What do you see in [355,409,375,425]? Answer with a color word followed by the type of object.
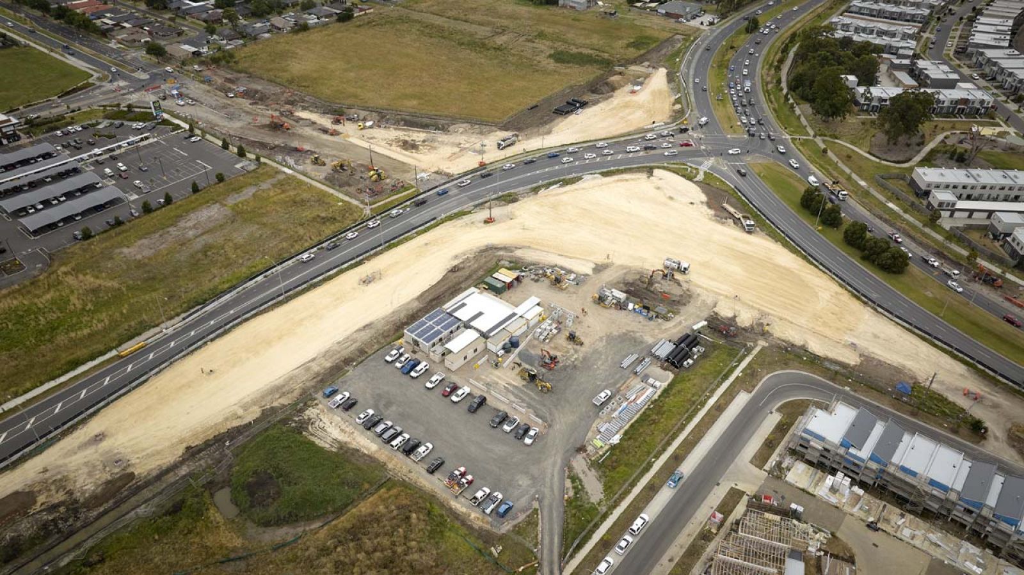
white car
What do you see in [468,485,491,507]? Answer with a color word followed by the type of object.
white truck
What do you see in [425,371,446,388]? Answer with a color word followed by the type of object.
white vehicle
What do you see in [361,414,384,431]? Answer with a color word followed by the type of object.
gray vehicle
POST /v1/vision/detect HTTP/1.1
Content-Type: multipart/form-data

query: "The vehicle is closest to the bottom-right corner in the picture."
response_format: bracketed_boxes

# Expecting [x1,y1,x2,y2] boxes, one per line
[860,499,891,537]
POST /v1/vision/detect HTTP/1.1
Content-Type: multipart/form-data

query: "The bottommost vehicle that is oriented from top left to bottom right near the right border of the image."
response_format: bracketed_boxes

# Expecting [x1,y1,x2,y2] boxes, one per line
[1001,312,1022,326]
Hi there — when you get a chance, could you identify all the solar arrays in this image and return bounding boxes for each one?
[424,309,446,322]
[440,318,461,332]
[423,329,445,343]
[414,324,436,338]
[432,314,453,327]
